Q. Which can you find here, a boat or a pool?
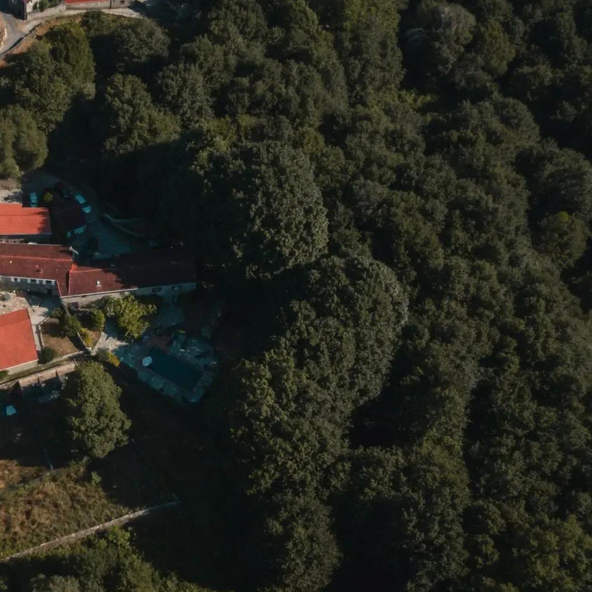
pool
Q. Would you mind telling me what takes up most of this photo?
trees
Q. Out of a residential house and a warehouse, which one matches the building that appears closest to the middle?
residential house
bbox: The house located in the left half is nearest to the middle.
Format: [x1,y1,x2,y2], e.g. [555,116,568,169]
[61,248,197,308]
